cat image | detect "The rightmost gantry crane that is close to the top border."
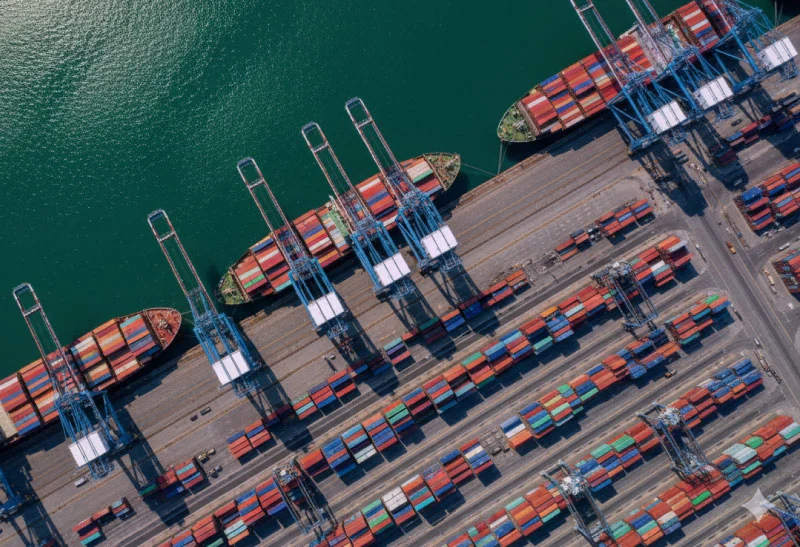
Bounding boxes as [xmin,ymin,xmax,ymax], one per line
[702,0,796,102]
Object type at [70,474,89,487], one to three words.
vehicle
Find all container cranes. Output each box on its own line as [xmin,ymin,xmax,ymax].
[262,450,331,533]
[238,156,362,340]
[347,95,465,278]
[301,120,420,303]
[538,456,612,538]
[702,0,796,102]
[8,281,152,477]
[633,0,730,134]
[145,206,277,395]
[584,257,658,331]
[573,0,687,160]
[627,398,707,478]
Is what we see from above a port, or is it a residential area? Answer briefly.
port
